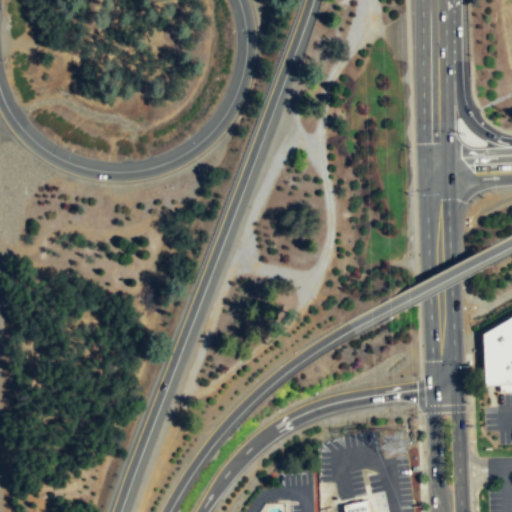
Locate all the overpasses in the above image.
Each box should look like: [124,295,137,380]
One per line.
[352,234,512,336]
